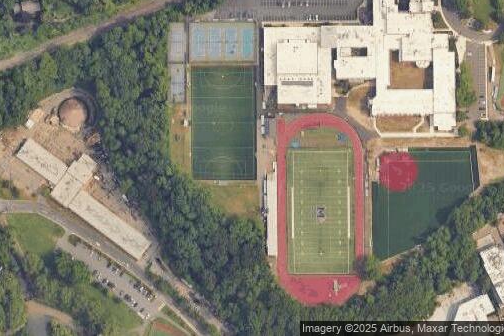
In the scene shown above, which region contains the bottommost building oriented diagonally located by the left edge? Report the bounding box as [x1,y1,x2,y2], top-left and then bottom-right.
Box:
[16,139,151,261]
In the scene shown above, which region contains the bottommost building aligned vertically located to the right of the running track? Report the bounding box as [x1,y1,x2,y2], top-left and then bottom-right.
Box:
[479,245,504,305]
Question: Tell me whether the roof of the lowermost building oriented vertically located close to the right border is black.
No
